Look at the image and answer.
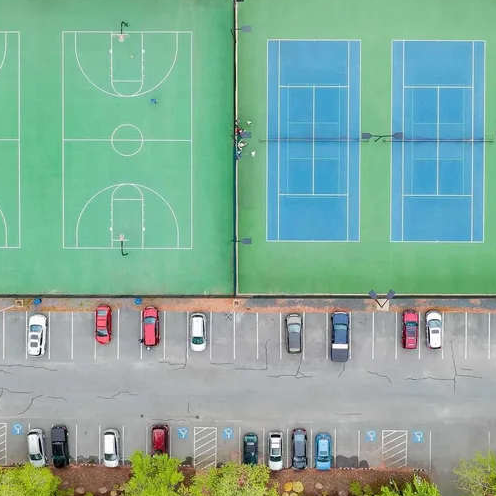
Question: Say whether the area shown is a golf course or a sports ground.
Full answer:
The picture captures a sports ground.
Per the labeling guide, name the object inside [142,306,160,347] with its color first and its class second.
red car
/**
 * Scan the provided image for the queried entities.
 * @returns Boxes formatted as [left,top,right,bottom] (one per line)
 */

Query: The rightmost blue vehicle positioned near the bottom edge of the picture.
[315,433,333,473]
